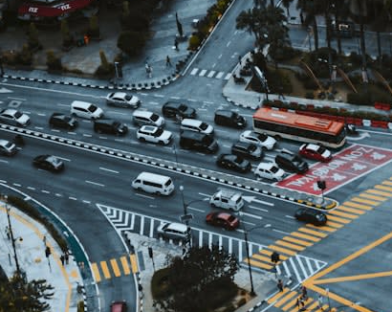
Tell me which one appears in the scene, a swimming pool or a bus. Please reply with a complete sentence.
The image shows a bus.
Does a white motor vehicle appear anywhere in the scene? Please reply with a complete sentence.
Yes, looking at the shot, I can spot a white motor vehicle.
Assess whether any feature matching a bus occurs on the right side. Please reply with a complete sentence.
Yes, you'll find a bus on the right side.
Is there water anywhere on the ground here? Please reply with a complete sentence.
No, there's no water in this view.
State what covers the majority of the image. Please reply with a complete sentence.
For the most part, this view shows paved ground.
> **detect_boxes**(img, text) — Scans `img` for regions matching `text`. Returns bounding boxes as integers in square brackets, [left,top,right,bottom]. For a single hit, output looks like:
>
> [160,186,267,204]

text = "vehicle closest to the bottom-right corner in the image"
[292,209,328,228]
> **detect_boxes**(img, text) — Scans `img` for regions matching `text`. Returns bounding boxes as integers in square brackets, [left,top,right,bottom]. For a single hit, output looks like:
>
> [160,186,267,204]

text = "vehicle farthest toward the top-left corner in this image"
[0,109,31,127]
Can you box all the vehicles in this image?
[90,114,129,137]
[0,109,31,127]
[271,149,311,174]
[209,104,250,129]
[67,98,105,119]
[104,92,141,109]
[239,132,277,150]
[44,111,82,131]
[128,107,167,128]
[252,108,351,149]
[227,140,267,162]
[292,209,328,228]
[159,101,197,119]
[131,169,174,194]
[177,114,216,137]
[134,125,172,145]
[0,140,20,157]
[178,130,218,153]
[202,212,243,231]
[209,187,243,210]
[295,145,335,163]
[252,162,287,182]
[214,155,253,174]
[109,304,127,312]
[30,156,67,174]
